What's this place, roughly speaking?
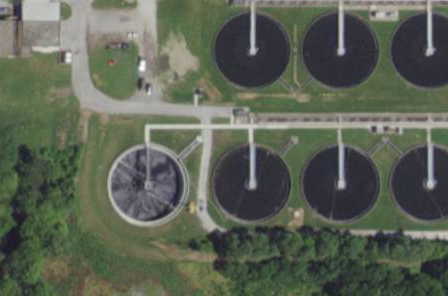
industrial area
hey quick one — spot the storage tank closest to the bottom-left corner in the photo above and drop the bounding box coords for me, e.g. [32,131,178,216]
[106,129,188,226]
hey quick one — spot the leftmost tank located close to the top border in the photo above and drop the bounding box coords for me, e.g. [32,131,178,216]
[214,0,290,89]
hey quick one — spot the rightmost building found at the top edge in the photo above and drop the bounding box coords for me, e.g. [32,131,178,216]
[22,0,60,56]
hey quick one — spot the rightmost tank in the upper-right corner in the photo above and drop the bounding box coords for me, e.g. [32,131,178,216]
[391,0,448,88]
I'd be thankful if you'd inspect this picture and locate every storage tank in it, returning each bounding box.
[214,0,290,89]
[302,0,380,89]
[106,129,188,226]
[212,128,290,224]
[391,0,448,88]
[390,128,448,224]
[300,128,380,224]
